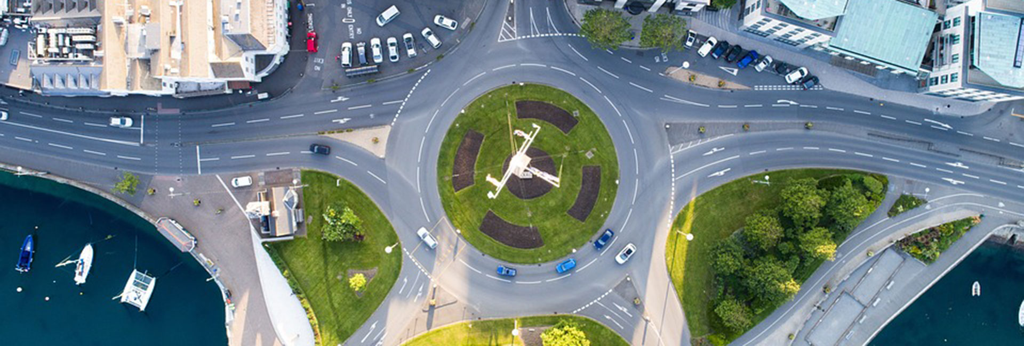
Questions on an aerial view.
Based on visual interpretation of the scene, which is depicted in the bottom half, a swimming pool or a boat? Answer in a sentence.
It is a boat that can be seen in the bottom half.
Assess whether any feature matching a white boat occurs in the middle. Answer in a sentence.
No, there's no white boat to be seen in the middle.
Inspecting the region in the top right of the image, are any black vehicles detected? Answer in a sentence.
Yes, a black vehicle shows up in the top right of the image.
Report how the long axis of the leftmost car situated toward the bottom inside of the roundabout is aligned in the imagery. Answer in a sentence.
The leftmost car situated toward the bottom inside of the roundabout is oriented diagonally.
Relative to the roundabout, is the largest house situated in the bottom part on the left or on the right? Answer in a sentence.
It is on the left side of the roundabout that the largest house situated in the bottom part is positioned.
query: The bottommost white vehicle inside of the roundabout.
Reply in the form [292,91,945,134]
[615,242,638,265]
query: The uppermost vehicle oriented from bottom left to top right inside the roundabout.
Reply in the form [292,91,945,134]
[594,227,615,251]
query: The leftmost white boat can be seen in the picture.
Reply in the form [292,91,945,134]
[58,245,89,286]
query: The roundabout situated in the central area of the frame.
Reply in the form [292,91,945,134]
[384,33,673,318]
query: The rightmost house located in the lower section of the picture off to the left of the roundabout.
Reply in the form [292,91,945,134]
[245,187,306,237]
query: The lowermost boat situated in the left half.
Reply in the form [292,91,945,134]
[114,270,153,313]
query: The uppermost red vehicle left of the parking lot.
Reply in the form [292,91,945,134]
[305,31,317,52]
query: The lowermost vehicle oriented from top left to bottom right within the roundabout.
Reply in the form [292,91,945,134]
[415,226,439,250]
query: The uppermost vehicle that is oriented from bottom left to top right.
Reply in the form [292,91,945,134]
[374,4,401,25]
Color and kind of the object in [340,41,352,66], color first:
white vehicle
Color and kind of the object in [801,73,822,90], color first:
blue car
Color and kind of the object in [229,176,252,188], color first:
white vehicle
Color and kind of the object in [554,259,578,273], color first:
blue car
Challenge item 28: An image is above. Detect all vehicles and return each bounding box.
[433,12,458,30]
[374,4,401,25]
[615,242,638,265]
[229,176,252,188]
[774,59,792,76]
[697,34,720,58]
[402,31,417,57]
[386,36,399,62]
[415,226,439,250]
[554,259,578,273]
[305,31,317,52]
[594,227,615,251]
[784,65,810,84]
[725,41,745,64]
[801,73,822,90]
[754,53,774,73]
[369,36,382,62]
[737,48,761,70]
[0,109,9,121]
[420,25,442,49]
[340,41,352,66]
[308,143,331,155]
[107,116,132,127]
[356,41,366,64]
[710,39,730,60]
